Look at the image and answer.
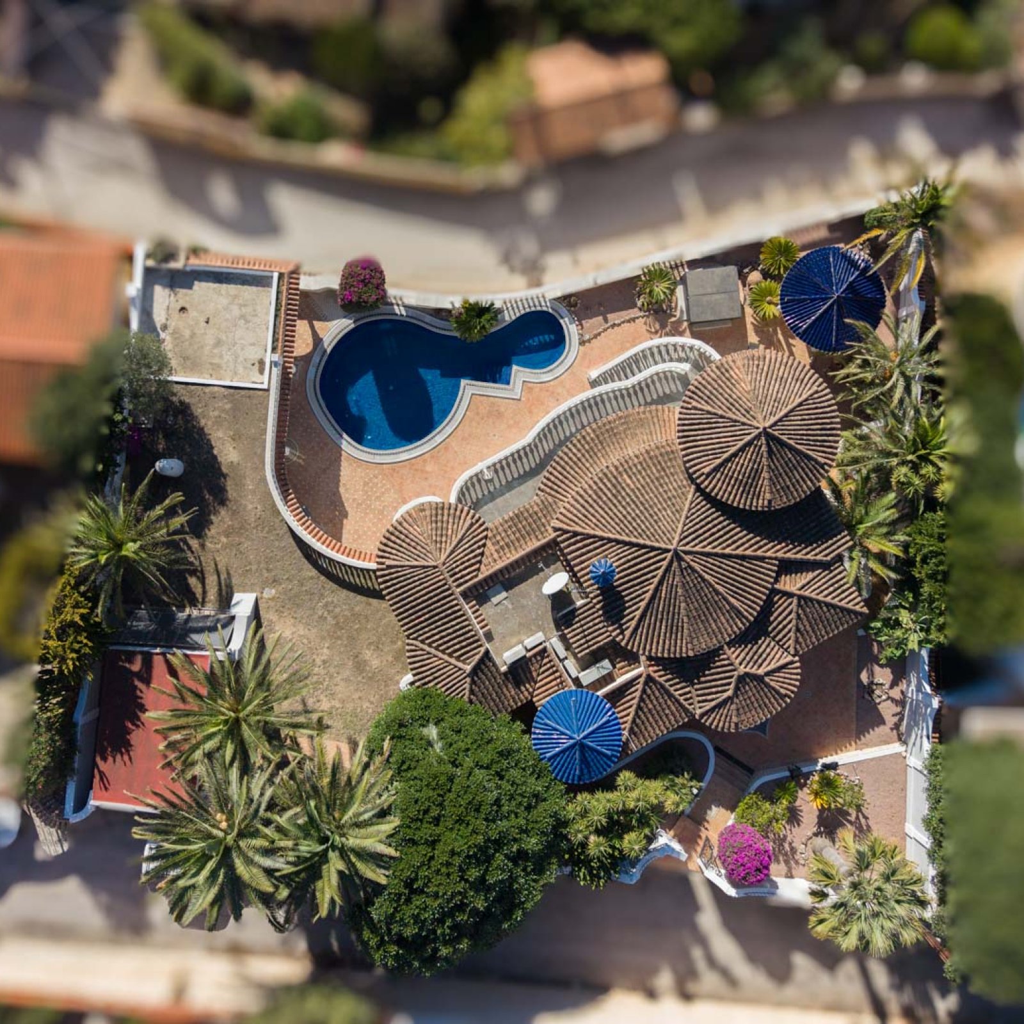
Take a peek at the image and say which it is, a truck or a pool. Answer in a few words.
pool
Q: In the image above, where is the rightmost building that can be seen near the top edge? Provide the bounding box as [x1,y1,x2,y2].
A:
[516,38,678,177]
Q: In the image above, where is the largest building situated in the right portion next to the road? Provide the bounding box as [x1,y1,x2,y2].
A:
[375,347,871,784]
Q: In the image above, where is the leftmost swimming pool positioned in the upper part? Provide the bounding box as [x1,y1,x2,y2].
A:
[305,301,581,464]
